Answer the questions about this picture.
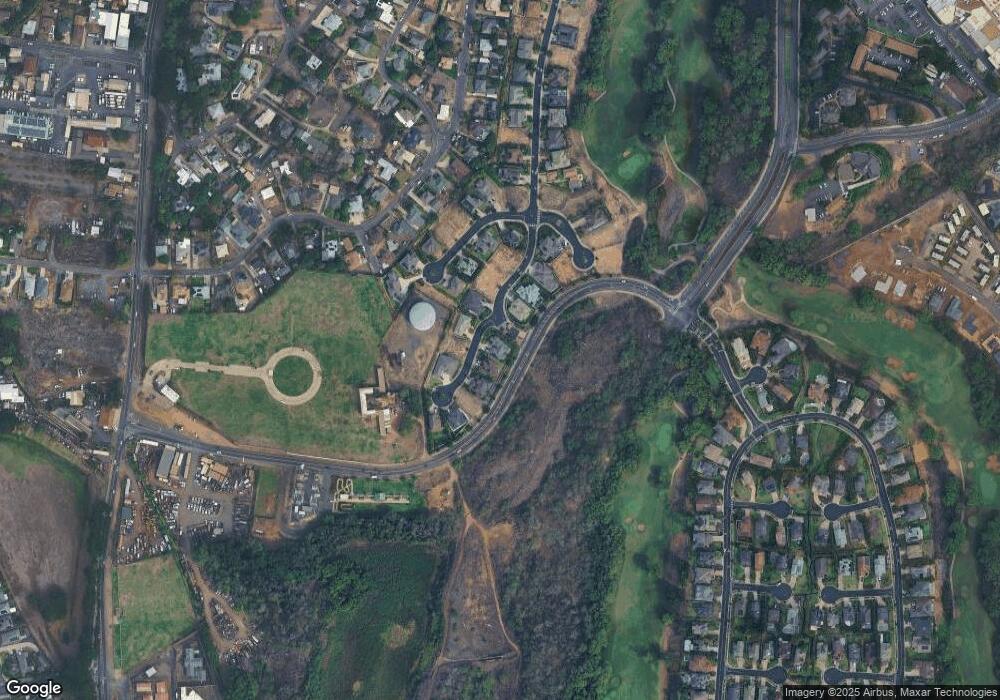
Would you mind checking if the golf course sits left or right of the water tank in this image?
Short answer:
to its right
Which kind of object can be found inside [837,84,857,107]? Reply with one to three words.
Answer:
house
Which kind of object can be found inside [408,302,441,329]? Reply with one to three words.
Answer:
water tank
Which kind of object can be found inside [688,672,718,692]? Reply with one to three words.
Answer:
house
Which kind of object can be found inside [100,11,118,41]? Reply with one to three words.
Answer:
building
